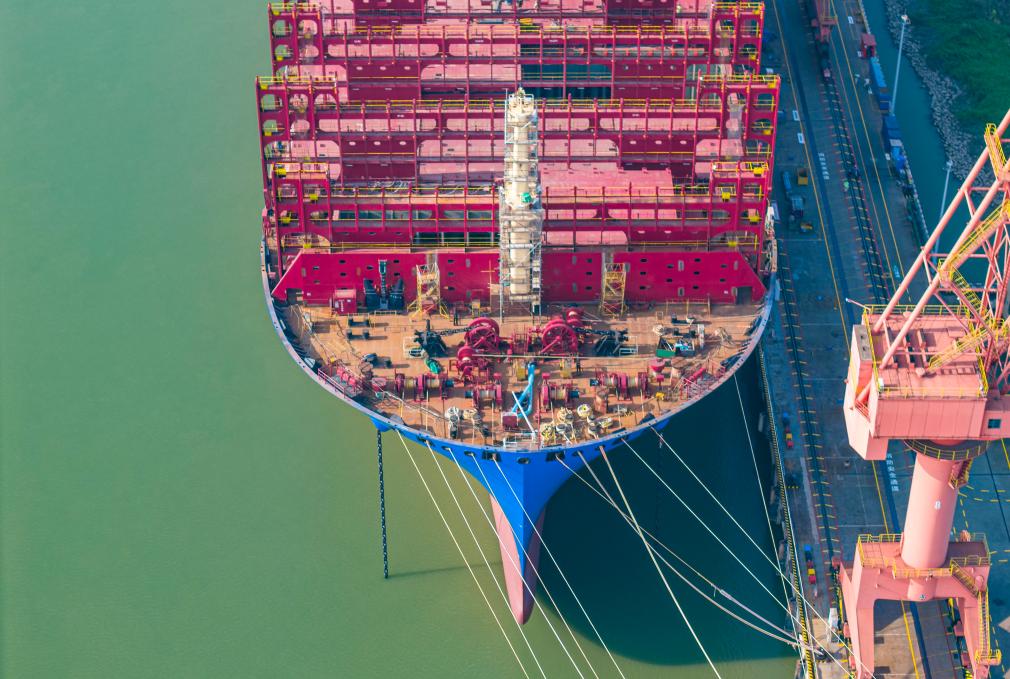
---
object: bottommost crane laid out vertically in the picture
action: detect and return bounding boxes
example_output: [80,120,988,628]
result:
[829,104,1010,679]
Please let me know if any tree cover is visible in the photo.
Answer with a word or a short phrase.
No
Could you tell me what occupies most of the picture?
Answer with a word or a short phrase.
water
